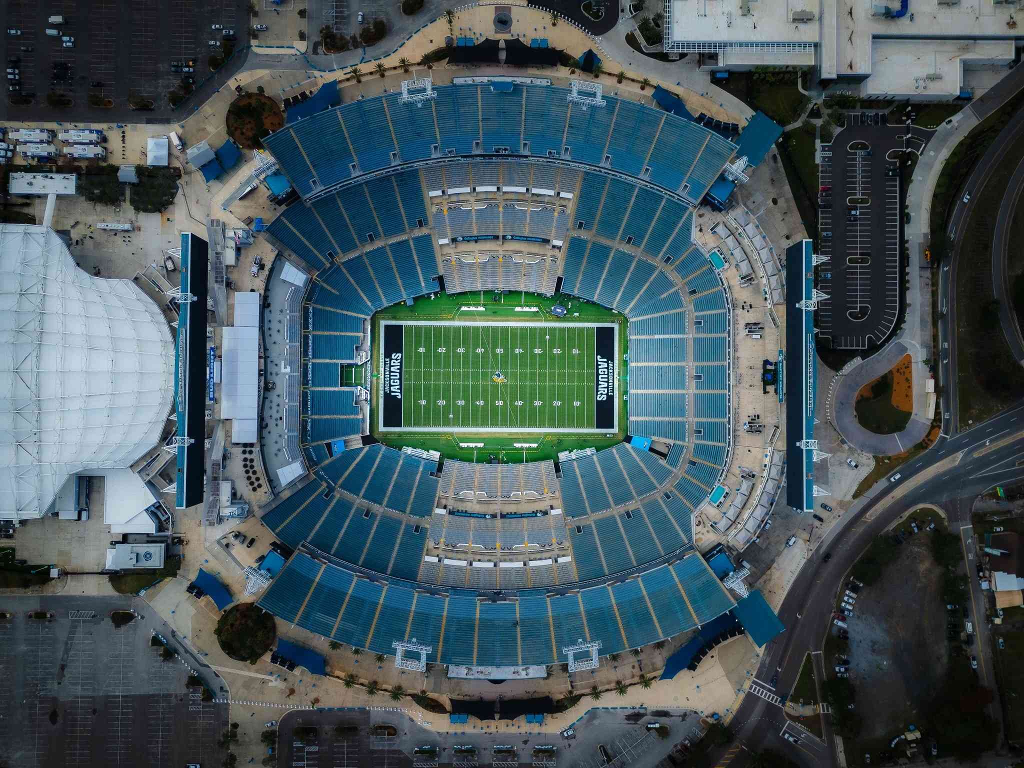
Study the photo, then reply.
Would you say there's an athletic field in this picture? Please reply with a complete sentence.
Yes, the picture does show an athletic field.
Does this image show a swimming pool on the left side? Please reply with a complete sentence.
No, there's no swimming pool to be seen on the left side.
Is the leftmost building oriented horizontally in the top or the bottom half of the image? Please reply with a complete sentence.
The leftmost building oriented horizontally sits in the top half of the picture.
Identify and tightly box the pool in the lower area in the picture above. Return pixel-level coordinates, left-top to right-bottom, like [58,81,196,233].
[708,483,729,506]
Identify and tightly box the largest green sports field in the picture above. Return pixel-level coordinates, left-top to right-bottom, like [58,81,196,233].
[375,292,622,463]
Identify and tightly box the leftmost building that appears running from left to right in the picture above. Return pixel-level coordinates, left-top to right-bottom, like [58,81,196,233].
[9,173,81,197]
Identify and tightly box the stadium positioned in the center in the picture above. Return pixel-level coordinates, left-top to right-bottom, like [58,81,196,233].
[255,83,787,670]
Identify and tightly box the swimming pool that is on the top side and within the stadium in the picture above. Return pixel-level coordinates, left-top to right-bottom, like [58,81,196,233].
[709,249,728,272]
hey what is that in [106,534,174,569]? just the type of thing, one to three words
building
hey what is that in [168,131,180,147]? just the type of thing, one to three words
vehicle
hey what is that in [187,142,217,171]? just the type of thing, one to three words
shed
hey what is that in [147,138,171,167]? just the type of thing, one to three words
tent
